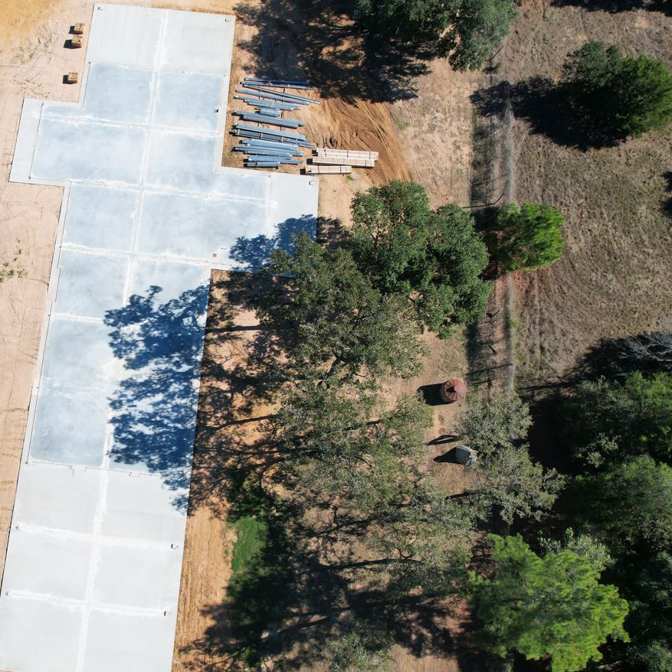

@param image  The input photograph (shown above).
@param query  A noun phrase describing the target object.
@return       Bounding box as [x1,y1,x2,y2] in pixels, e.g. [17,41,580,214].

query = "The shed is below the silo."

[457,449,482,469]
